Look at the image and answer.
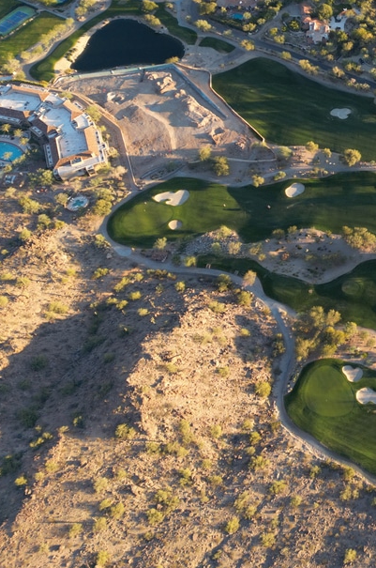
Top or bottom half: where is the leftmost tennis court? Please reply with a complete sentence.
It is in the top half that the leftmost tennis court appears.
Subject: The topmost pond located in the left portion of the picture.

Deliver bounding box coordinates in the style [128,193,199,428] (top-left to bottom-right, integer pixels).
[70,20,184,72]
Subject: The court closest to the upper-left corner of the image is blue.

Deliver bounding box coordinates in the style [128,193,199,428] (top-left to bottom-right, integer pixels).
[0,4,38,36]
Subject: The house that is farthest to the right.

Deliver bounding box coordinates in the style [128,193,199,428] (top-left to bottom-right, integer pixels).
[300,5,330,48]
